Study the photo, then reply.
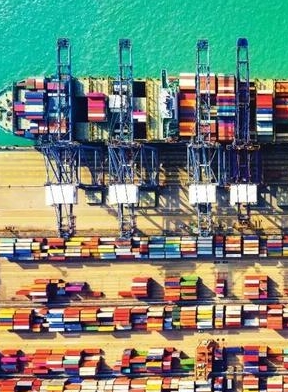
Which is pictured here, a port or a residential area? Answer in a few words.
port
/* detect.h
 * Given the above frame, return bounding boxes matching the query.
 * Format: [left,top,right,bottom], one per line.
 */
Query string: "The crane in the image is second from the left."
[99,39,166,239]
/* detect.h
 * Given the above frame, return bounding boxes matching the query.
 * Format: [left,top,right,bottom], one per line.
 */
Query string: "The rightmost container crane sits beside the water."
[226,38,267,238]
